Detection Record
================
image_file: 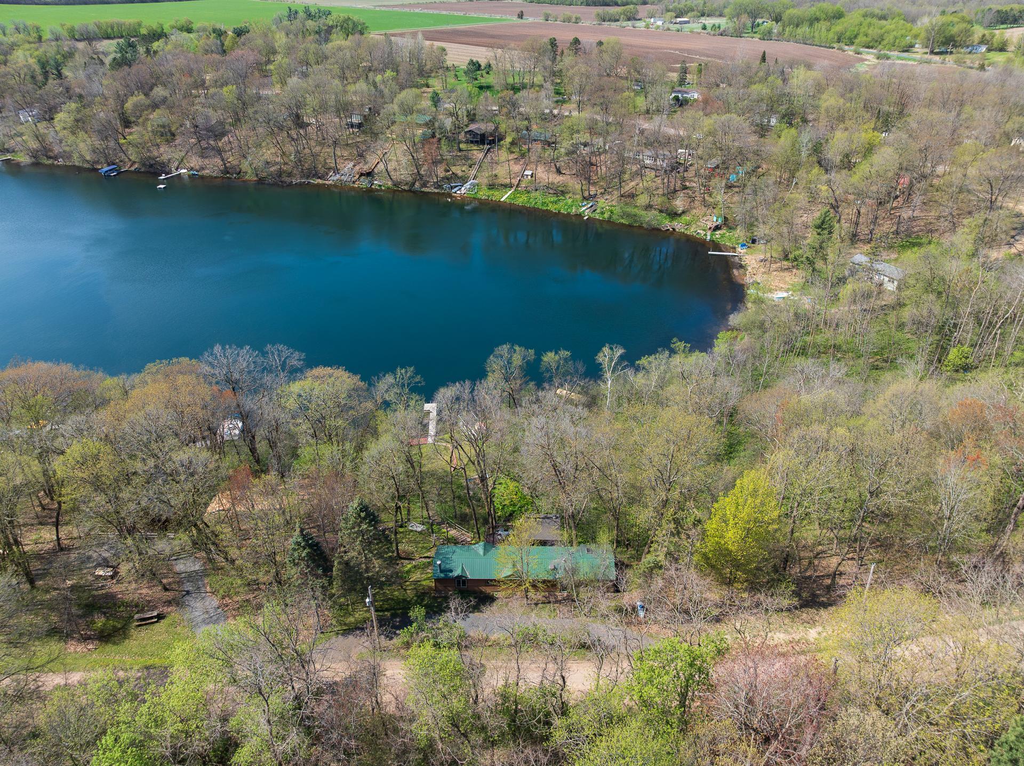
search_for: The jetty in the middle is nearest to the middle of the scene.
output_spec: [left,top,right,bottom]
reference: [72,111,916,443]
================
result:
[422,400,441,444]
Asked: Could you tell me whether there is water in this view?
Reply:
Yes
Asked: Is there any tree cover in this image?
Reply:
Yes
